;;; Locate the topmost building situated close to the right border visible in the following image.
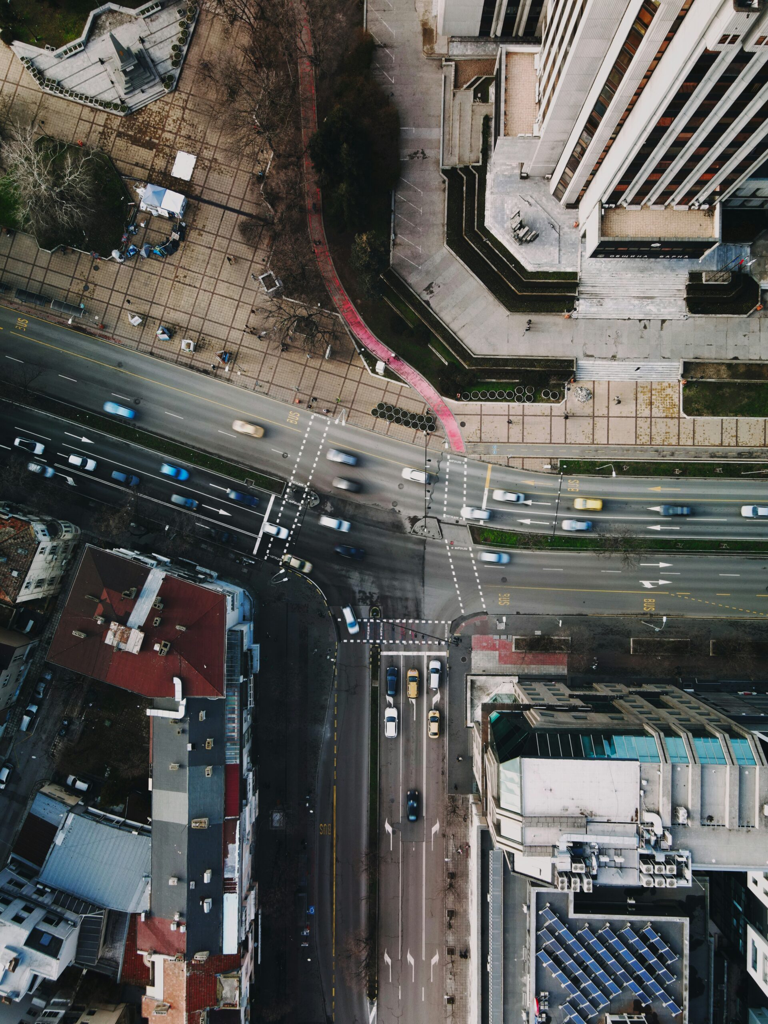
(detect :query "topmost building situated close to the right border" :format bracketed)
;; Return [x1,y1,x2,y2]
[495,0,768,261]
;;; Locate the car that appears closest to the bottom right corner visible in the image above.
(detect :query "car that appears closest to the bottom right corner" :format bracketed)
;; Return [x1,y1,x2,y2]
[405,790,420,822]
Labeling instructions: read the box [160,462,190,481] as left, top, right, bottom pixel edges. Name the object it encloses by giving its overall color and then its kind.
blue car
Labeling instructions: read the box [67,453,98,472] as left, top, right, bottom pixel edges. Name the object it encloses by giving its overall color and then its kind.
white car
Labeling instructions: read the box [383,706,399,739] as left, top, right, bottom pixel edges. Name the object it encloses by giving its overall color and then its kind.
white car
